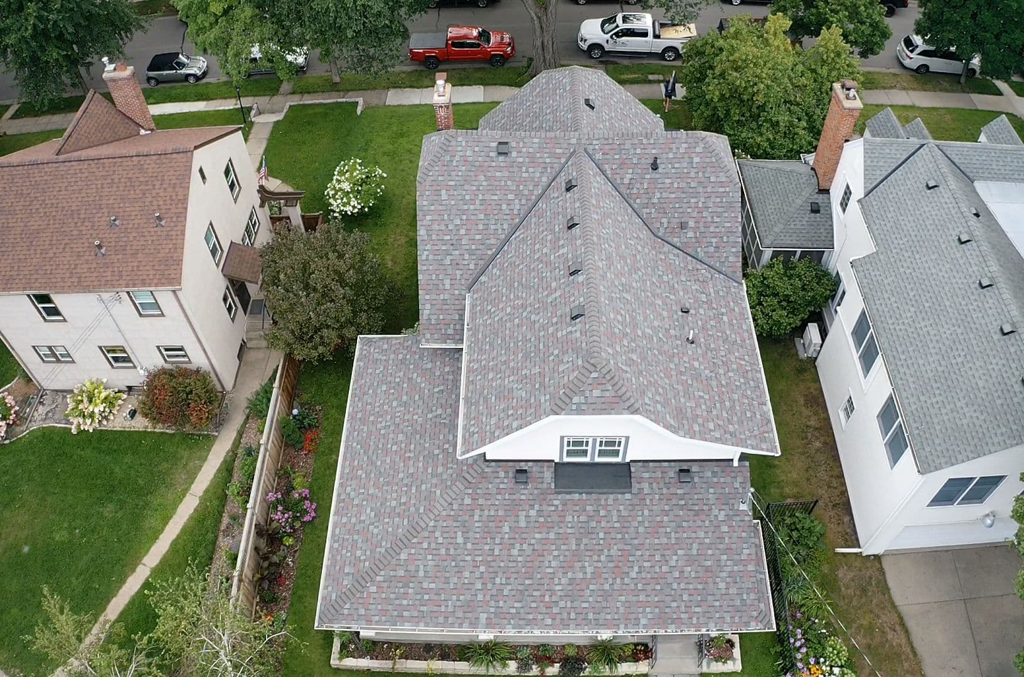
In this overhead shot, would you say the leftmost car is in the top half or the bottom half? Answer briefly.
top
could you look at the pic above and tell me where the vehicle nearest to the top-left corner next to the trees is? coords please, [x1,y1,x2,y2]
[139,51,205,85]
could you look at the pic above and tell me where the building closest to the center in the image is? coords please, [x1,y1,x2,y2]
[308,59,786,648]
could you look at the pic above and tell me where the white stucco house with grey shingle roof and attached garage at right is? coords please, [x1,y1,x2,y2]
[739,71,1024,555]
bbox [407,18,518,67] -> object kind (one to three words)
truck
